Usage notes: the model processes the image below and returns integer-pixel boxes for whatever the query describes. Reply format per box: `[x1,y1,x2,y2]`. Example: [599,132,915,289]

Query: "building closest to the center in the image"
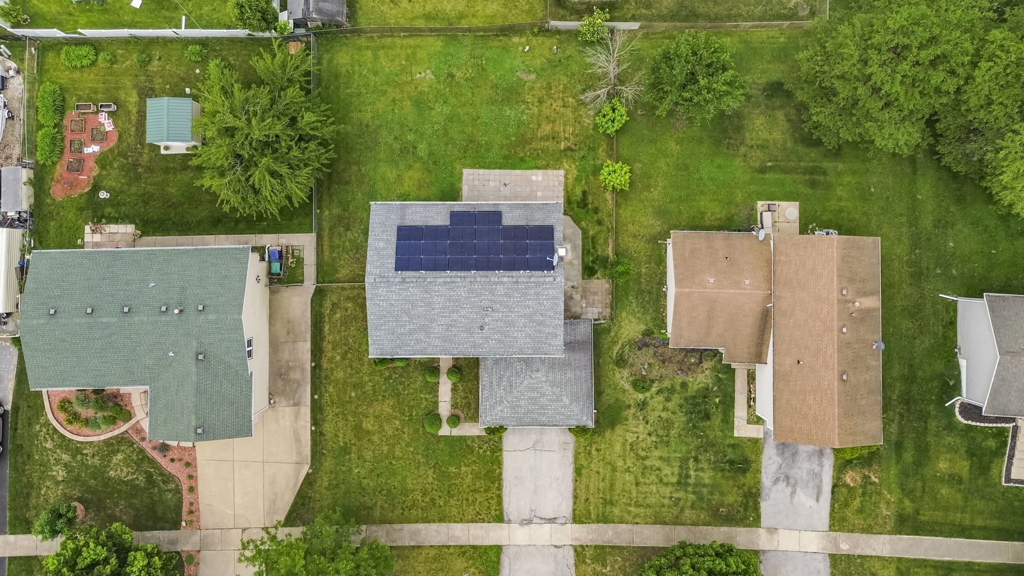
[365,200,605,429]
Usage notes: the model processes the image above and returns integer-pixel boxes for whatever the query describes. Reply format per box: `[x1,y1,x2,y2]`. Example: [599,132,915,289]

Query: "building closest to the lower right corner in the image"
[940,292,1024,418]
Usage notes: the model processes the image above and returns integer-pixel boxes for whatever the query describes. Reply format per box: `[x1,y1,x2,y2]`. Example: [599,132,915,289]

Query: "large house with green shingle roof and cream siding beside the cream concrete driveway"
[19,244,270,443]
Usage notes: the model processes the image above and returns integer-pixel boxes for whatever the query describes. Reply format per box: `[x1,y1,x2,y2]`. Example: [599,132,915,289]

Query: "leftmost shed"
[0,165,34,211]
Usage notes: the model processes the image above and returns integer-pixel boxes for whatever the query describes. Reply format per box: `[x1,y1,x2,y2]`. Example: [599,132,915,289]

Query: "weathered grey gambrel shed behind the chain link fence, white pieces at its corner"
[287,0,346,28]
